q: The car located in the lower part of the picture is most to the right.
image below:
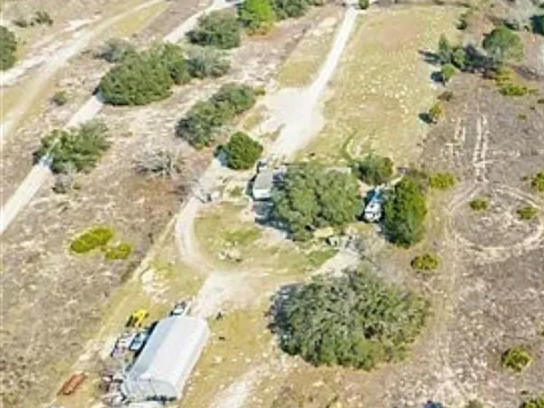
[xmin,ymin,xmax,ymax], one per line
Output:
[162,300,191,320]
